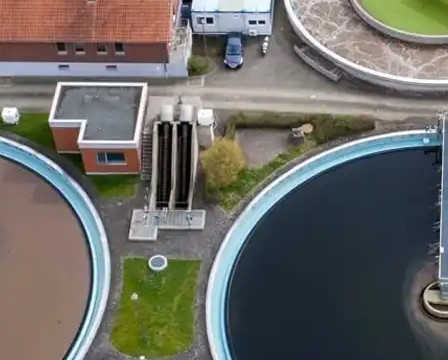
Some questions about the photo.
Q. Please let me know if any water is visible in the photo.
Yes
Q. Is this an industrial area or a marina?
industrial area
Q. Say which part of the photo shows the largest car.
top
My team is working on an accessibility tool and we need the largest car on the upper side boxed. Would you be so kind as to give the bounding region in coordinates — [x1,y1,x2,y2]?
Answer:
[221,30,244,65]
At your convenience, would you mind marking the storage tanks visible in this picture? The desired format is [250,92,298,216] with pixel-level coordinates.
[0,136,111,360]
[205,130,448,360]
[284,0,448,97]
